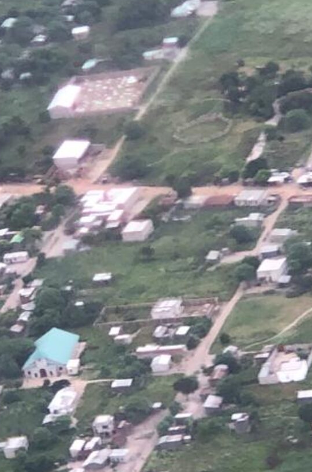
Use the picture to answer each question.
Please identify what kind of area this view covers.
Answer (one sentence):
The area seen from above is a residential area.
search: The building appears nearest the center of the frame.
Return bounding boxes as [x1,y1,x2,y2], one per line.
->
[121,219,151,242]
